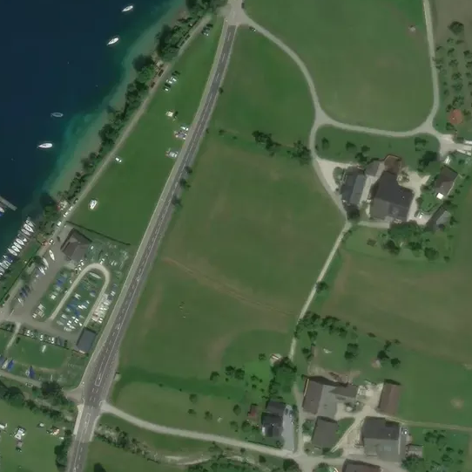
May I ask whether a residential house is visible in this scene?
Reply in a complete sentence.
Yes, the picture does show a residential house.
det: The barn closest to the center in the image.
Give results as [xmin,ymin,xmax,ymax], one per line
[341,172,366,204]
